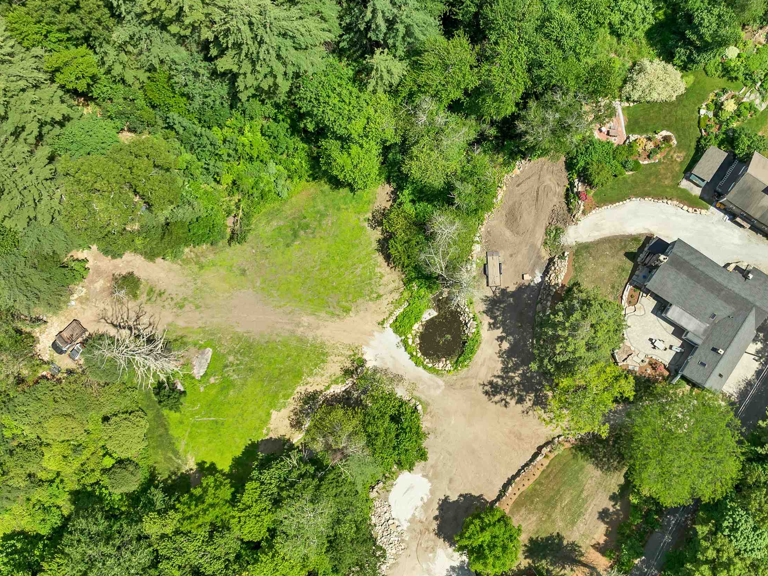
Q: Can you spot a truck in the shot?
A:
Yes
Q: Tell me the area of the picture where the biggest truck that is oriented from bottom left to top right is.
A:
left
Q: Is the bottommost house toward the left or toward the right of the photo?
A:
right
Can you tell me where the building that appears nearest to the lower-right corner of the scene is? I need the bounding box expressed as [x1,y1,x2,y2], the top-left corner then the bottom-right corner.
[645,238,768,391]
